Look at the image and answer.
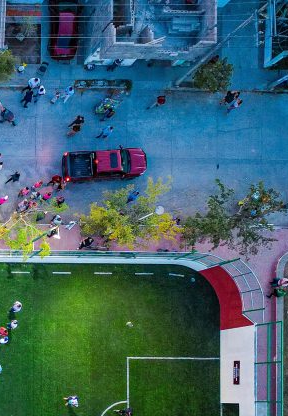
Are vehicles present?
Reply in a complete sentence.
Yes, a vehicle is visible in the scene.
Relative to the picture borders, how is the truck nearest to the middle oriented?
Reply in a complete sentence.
The truck nearest to the middle is oriented horizontally.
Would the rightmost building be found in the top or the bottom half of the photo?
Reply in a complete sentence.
Seen from above, the rightmost building lies in the top half of the view.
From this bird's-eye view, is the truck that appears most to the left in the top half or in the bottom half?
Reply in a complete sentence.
Seen from above, the truck that appears most to the left lies in the top half of the view.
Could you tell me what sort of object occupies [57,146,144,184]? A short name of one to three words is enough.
truck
